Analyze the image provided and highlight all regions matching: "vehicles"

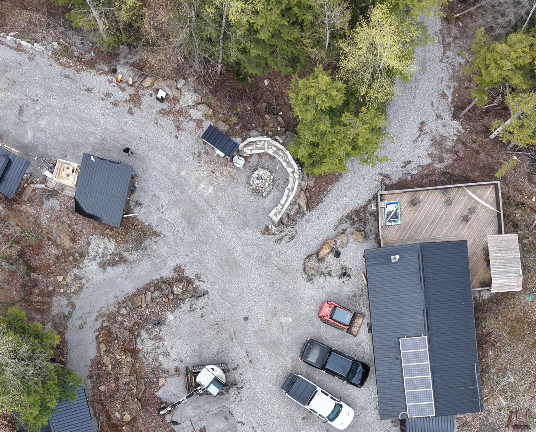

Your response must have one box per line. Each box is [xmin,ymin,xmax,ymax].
[298,339,373,387]
[160,367,225,413]
[284,374,356,428]
[321,303,368,343]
